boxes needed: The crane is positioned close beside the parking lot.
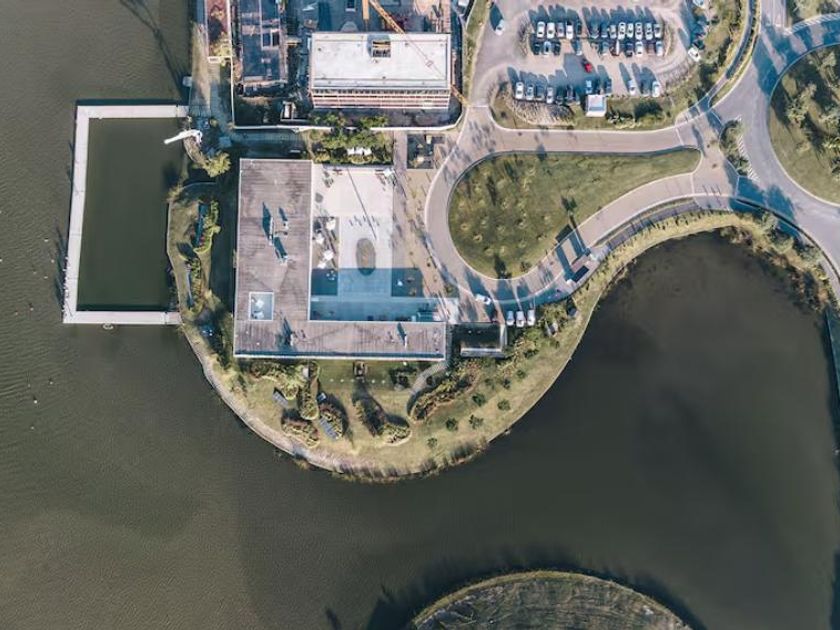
[359,0,470,105]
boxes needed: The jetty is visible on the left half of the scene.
[64,104,189,323]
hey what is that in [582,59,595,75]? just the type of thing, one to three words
vehicle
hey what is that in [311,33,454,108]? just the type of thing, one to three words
building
